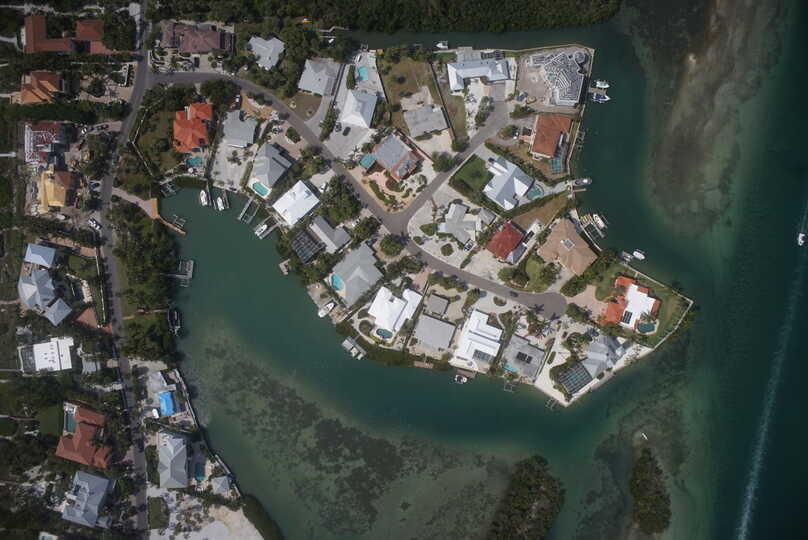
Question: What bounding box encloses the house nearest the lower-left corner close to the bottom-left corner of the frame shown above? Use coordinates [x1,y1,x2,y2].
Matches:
[62,471,114,528]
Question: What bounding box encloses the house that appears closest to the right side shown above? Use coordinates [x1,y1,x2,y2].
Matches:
[601,278,661,329]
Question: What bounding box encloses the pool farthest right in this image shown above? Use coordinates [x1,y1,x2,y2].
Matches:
[638,321,656,334]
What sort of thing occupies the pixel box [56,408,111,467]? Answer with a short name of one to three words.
house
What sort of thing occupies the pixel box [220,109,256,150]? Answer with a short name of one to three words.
house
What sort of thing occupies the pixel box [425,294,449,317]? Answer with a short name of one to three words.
building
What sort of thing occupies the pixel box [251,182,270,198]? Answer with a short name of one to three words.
swimming pool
